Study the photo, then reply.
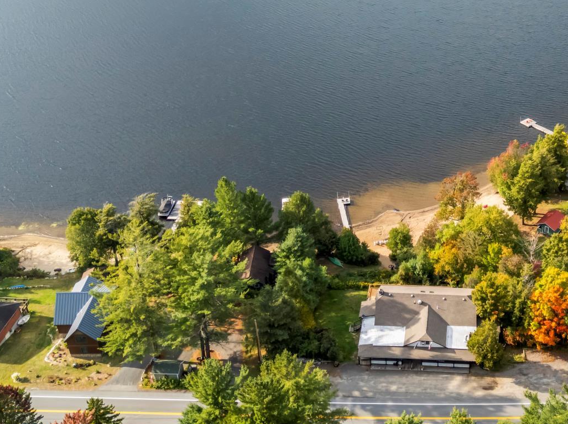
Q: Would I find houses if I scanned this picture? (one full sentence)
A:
Yes, you can see a house in this photo.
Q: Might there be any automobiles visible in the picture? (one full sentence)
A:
No, I can't see a single automobile in this photo.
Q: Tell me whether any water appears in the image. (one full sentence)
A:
Yes, there is water in the image.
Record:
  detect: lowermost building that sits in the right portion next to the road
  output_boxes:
[345,283,477,375]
